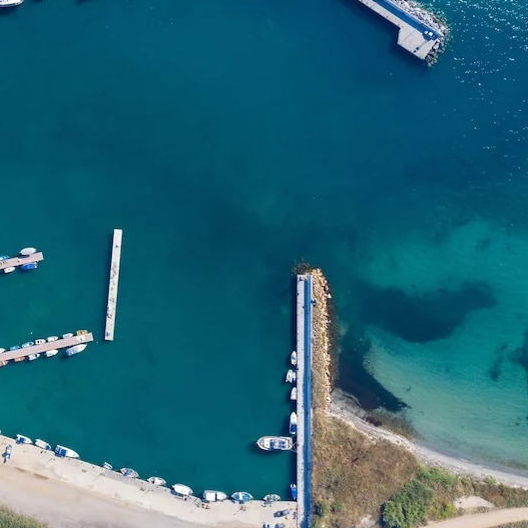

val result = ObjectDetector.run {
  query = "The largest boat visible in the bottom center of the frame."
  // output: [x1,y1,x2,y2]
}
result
[257,436,297,450]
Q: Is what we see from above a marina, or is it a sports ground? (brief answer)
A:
marina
